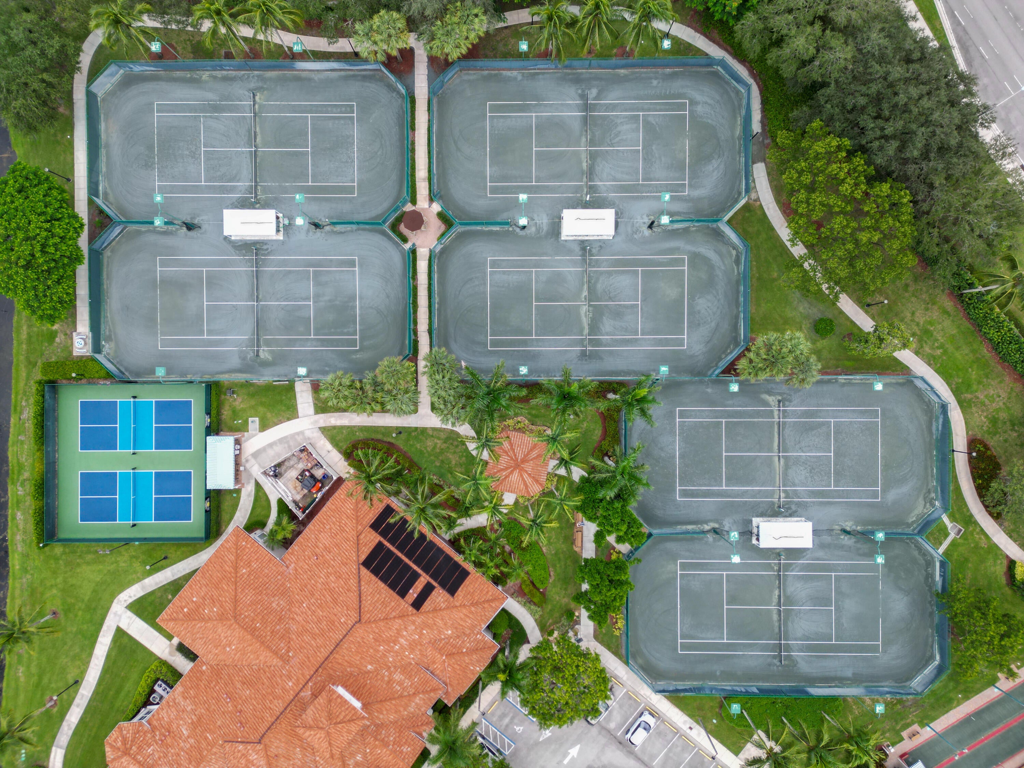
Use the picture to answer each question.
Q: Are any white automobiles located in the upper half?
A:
No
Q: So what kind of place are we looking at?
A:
sports ground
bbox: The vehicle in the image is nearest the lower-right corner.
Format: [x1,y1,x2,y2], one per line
[624,711,656,748]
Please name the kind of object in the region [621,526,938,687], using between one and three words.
tennis court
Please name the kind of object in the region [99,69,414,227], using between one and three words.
tennis court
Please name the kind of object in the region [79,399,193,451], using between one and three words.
sports court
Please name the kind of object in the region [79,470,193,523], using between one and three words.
sports court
